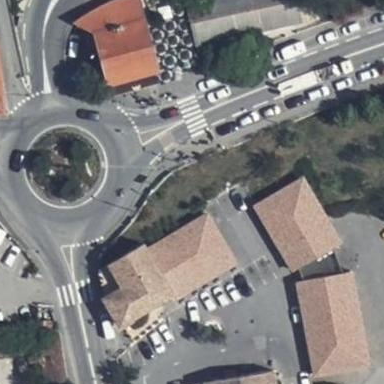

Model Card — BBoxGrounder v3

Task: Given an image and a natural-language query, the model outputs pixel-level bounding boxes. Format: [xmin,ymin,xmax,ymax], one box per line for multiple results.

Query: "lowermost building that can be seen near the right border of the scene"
[296,272,370,378]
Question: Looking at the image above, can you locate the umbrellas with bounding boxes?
[179,49,191,60]
[178,20,188,30]
[167,34,179,46]
[164,54,176,66]
[152,28,164,40]
[175,8,186,18]
[160,70,172,82]
[156,42,168,54]
[164,20,176,32]
[182,34,194,45]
